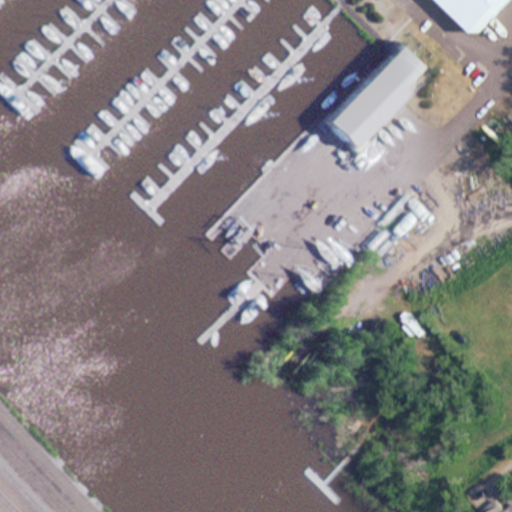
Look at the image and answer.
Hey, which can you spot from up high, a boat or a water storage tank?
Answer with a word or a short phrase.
boat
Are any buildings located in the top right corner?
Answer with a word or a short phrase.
Yes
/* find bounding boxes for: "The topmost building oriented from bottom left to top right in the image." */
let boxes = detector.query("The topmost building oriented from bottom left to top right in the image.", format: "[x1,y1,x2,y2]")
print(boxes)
[324,44,428,148]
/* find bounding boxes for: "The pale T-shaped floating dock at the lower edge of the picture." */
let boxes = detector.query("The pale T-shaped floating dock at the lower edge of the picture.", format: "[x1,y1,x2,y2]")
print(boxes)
[304,458,350,505]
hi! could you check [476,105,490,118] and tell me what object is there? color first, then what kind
white vehicle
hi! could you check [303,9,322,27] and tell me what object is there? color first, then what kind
white boat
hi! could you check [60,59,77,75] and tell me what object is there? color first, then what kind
white boat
